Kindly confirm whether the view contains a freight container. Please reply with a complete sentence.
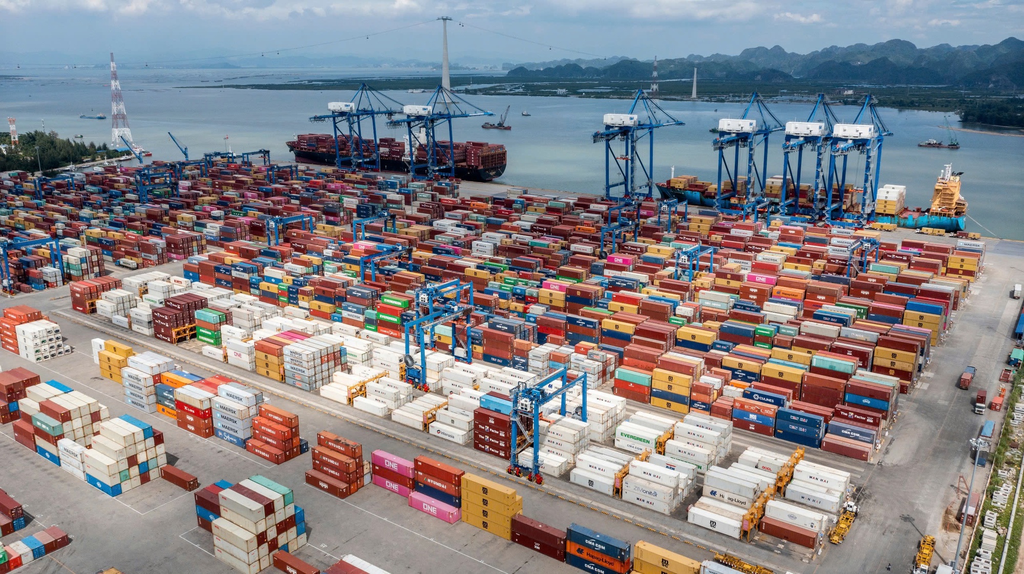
Yes, the photo shows a freight container.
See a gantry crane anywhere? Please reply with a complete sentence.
Yes, this view includes a gantry crane.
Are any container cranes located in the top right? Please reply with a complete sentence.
Yes, looking in the top right, one can make out a container crane.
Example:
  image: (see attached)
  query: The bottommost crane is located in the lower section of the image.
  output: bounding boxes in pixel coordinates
[504,361,603,485]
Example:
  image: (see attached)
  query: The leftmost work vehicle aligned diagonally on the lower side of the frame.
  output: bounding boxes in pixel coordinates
[834,490,871,535]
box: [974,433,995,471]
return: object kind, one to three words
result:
truck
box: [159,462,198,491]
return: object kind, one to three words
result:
shipping container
